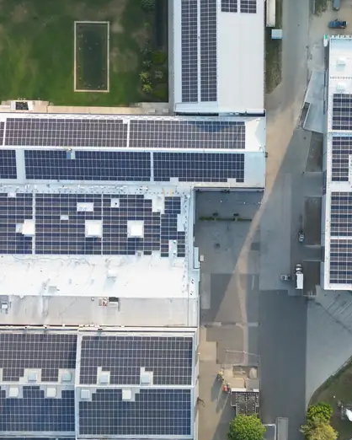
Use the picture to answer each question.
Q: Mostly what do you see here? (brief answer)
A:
buildings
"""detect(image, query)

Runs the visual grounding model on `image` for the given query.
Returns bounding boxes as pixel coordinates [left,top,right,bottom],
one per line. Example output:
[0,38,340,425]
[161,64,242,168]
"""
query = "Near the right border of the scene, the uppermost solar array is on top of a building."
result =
[333,94,352,130]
